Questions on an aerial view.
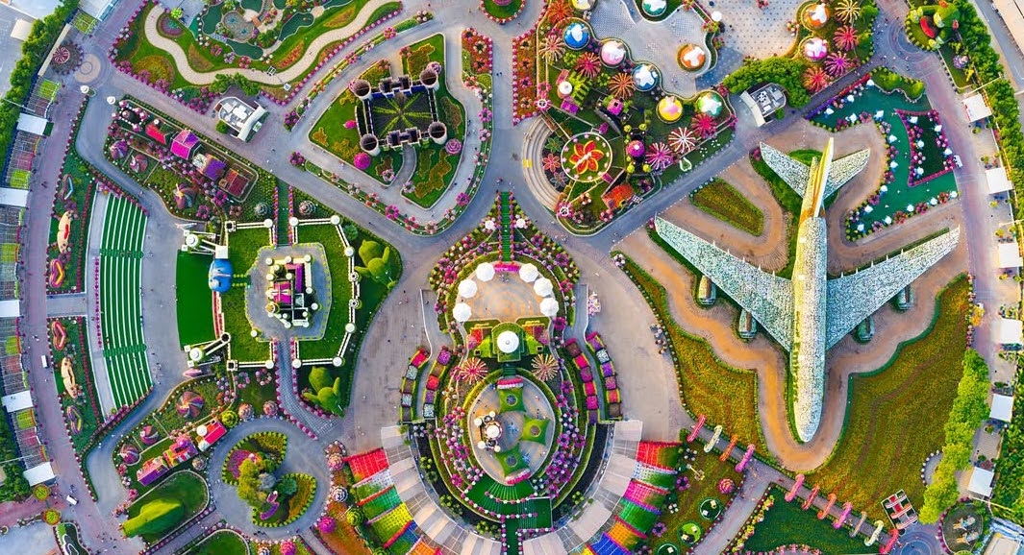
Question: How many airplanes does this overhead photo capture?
1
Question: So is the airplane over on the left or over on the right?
right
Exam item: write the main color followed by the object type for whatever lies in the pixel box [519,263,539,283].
white umbrella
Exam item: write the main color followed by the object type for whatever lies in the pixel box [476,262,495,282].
white umbrella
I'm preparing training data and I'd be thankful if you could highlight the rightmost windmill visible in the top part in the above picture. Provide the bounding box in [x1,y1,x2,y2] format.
[169,185,199,209]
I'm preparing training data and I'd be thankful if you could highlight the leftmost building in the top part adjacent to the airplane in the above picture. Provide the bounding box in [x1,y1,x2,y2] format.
[731,78,789,130]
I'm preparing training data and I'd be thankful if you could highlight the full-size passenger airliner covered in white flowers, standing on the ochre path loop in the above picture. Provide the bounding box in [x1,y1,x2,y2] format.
[655,138,959,442]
